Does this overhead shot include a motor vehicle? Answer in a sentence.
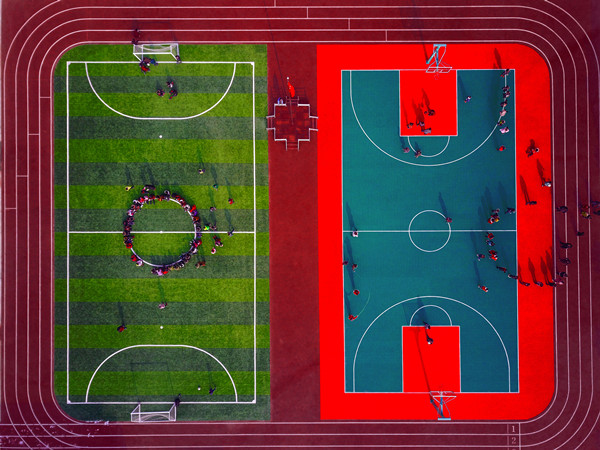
No, the frame has no motor vehicle in it.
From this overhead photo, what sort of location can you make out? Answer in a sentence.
This looks like a sports ground.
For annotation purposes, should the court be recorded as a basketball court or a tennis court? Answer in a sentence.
It turns out the court is a basketball court.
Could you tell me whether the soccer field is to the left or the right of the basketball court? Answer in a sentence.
Looking at the picture, you'll find the soccer field to the left of the basketball court.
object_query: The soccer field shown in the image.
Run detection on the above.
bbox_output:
[54,44,271,420]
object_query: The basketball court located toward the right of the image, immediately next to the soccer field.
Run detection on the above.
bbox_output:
[317,43,555,420]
